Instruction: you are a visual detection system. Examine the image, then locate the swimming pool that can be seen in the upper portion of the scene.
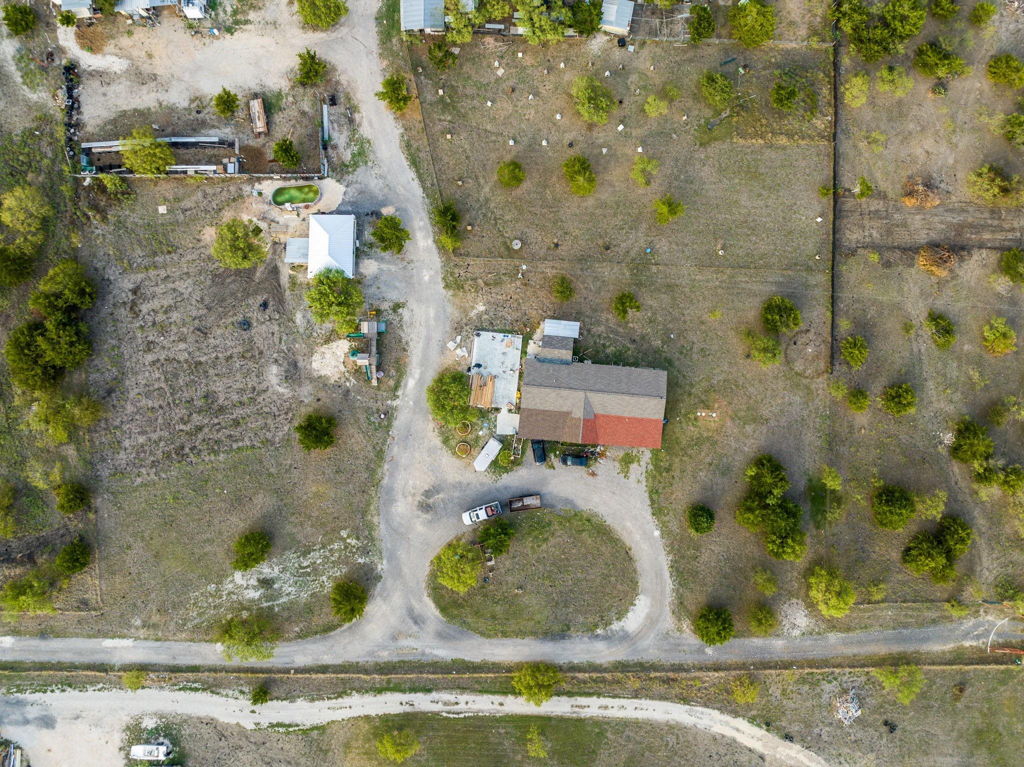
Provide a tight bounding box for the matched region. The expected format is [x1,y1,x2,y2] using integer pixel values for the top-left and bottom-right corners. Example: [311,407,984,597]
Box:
[270,183,323,208]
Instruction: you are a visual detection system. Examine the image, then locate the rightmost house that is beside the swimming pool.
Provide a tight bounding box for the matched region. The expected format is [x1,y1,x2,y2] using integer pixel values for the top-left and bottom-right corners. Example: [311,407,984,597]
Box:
[285,214,356,278]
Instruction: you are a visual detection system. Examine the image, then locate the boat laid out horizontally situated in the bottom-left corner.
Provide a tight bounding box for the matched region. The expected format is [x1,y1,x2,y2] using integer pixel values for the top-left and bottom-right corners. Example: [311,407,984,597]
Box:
[131,745,169,760]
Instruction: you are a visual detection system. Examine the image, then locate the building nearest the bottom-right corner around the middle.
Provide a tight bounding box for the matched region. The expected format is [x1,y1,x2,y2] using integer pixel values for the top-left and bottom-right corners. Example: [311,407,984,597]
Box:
[518,319,667,448]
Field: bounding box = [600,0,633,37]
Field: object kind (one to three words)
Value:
barn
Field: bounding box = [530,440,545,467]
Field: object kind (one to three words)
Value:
car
